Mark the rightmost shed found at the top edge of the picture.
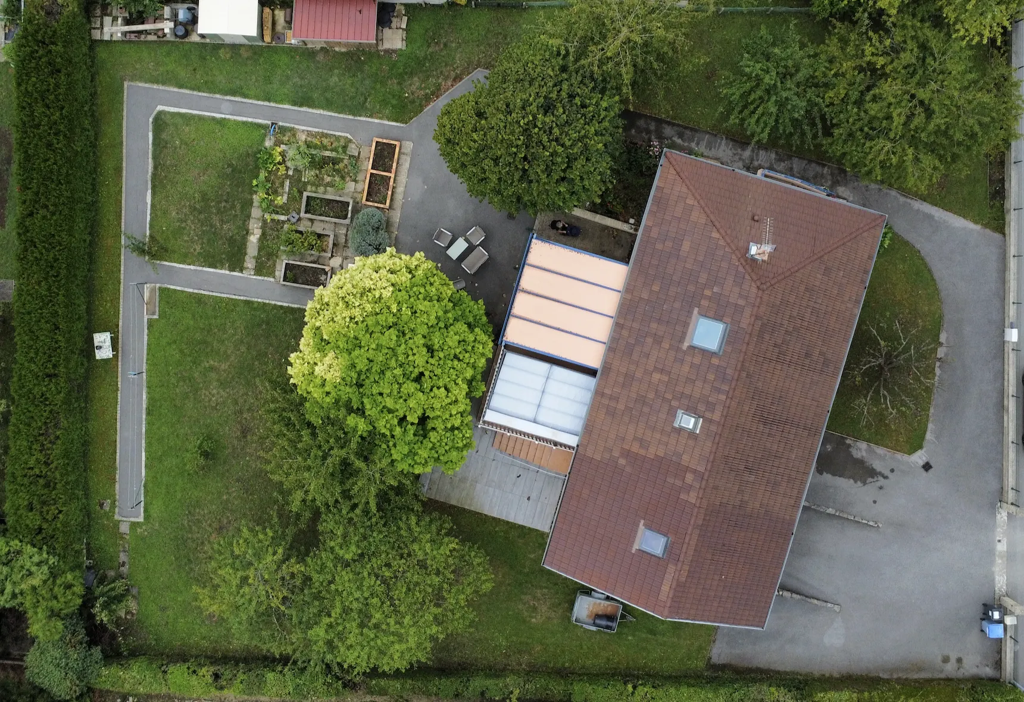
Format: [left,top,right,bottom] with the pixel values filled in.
[290,0,378,47]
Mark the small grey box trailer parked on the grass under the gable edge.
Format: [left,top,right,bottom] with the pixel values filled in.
[571,593,639,638]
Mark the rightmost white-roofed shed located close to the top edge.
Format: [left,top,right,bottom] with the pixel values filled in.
[198,0,264,45]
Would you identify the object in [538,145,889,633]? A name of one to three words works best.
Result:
house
